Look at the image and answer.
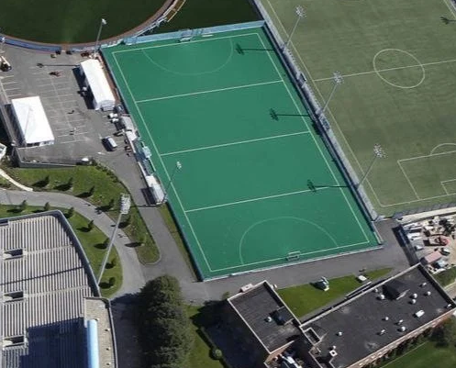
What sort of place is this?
sports ground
